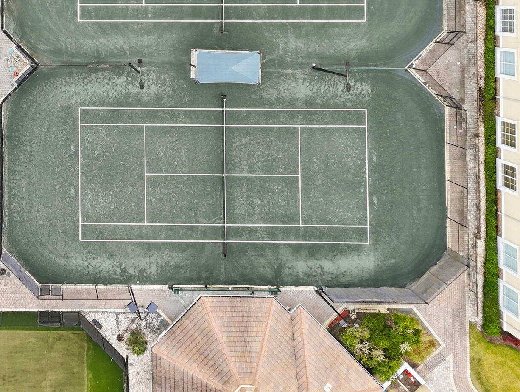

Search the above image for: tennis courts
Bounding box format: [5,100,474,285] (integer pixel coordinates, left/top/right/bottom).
[5,0,444,66]
[3,66,446,288]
